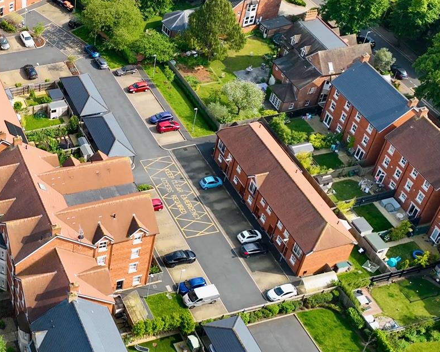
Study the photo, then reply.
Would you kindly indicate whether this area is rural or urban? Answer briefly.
urban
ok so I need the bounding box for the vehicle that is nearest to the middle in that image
[199,176,223,190]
